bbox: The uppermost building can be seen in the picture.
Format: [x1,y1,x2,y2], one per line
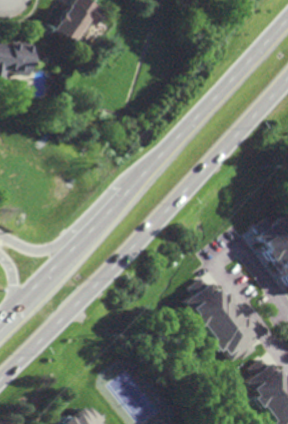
[54,0,98,36]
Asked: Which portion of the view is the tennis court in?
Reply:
bottom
